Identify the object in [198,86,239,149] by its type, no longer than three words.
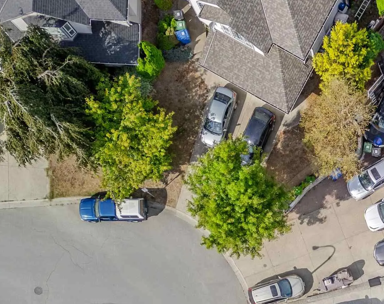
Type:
car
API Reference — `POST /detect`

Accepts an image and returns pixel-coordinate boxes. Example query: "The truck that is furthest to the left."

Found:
[81,193,148,224]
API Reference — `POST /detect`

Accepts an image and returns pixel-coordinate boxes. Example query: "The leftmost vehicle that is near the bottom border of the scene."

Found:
[245,272,307,304]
